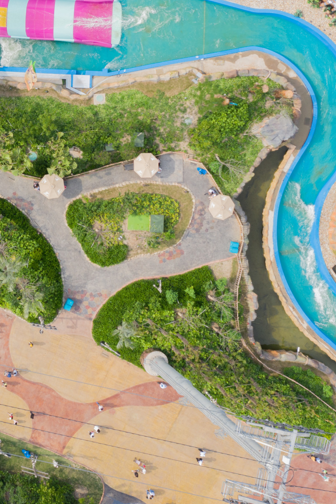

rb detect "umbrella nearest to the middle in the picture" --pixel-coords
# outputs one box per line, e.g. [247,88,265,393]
[207,194,233,220]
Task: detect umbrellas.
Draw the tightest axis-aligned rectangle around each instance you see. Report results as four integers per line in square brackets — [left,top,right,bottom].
[207,194,233,220]
[132,152,159,178]
[38,172,64,198]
